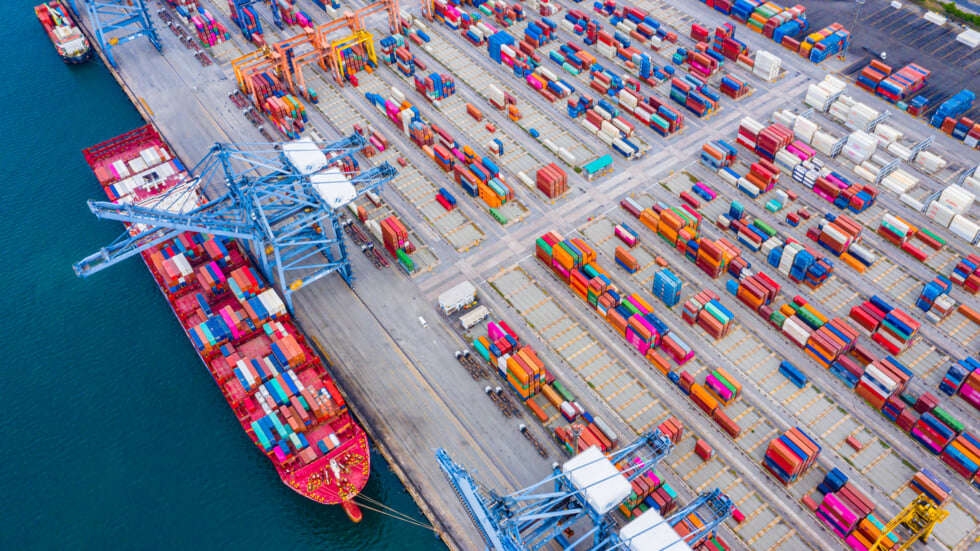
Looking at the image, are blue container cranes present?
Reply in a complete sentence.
Yes, a blue container crane is visible in the scene.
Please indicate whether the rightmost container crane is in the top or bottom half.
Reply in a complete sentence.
It is in the bottom half that the rightmost container crane appears.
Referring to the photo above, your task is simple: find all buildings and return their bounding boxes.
[460,301,489,324]
[436,281,479,320]
[581,155,614,179]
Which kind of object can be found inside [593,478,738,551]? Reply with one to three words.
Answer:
container crane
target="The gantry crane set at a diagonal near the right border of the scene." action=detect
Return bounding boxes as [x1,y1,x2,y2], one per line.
[868,490,949,551]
